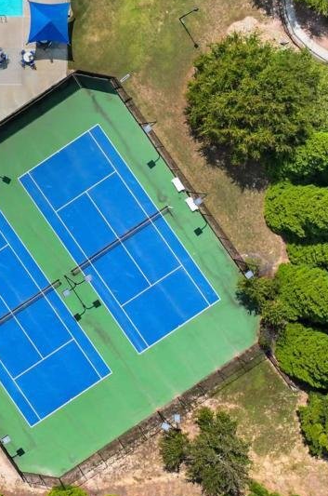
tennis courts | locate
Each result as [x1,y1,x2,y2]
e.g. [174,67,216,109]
[16,124,219,353]
[0,211,111,427]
